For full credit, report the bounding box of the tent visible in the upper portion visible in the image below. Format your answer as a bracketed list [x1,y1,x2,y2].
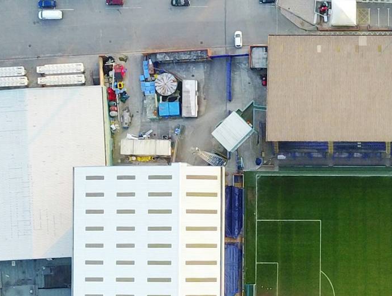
[331,0,357,28]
